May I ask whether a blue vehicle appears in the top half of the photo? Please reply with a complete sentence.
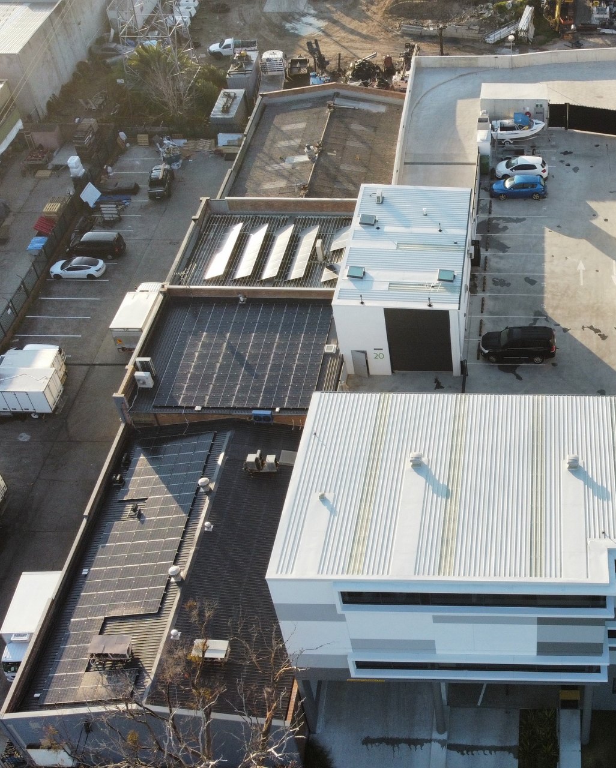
Yes, in the top half of the photo there is a blue vehicle.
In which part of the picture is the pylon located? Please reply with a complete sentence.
The pylon sits in the top left section of the image.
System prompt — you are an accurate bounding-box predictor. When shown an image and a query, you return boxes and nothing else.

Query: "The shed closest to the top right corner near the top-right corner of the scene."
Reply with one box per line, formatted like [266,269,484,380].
[481,81,548,130]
